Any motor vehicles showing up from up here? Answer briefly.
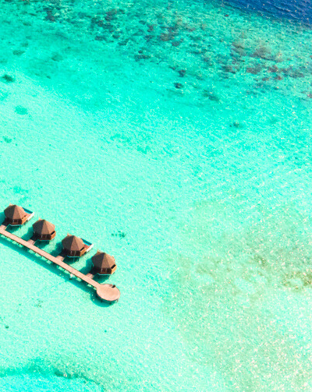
No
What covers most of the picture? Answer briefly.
water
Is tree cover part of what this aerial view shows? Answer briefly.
No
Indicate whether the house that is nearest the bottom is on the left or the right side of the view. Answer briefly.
left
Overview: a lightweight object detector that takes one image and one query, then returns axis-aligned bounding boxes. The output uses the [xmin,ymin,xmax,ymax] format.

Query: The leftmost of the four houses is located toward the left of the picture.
[1,205,29,226]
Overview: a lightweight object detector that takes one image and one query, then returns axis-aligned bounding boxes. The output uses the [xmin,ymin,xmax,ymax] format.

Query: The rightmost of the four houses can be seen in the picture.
[88,250,118,274]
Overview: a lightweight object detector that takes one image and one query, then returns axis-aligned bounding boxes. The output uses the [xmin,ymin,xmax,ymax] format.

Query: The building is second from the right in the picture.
[58,234,87,258]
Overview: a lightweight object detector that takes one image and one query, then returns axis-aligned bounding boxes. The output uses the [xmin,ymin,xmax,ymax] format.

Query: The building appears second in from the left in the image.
[30,218,57,241]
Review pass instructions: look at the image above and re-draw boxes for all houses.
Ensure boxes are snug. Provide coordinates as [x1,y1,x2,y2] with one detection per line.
[58,234,87,258]
[30,218,57,241]
[88,250,118,274]
[1,205,29,226]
